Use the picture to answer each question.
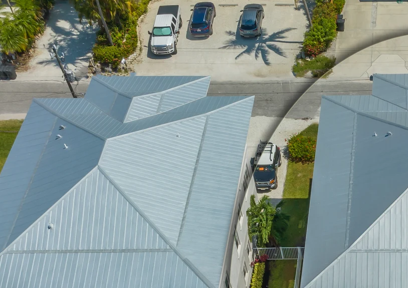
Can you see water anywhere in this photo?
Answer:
No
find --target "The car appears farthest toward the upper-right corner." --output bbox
[238,1,262,33]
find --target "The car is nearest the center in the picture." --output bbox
[251,131,284,184]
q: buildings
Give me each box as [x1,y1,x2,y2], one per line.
[300,73,408,288]
[0,74,262,288]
